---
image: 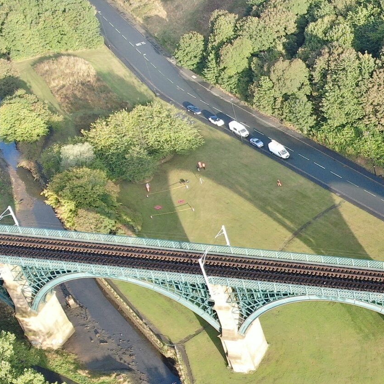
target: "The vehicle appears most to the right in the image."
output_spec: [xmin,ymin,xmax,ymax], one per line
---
[267,138,288,155]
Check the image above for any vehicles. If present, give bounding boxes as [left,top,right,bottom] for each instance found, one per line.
[229,118,248,134]
[248,136,264,146]
[267,138,288,155]
[186,103,201,113]
[208,114,224,125]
